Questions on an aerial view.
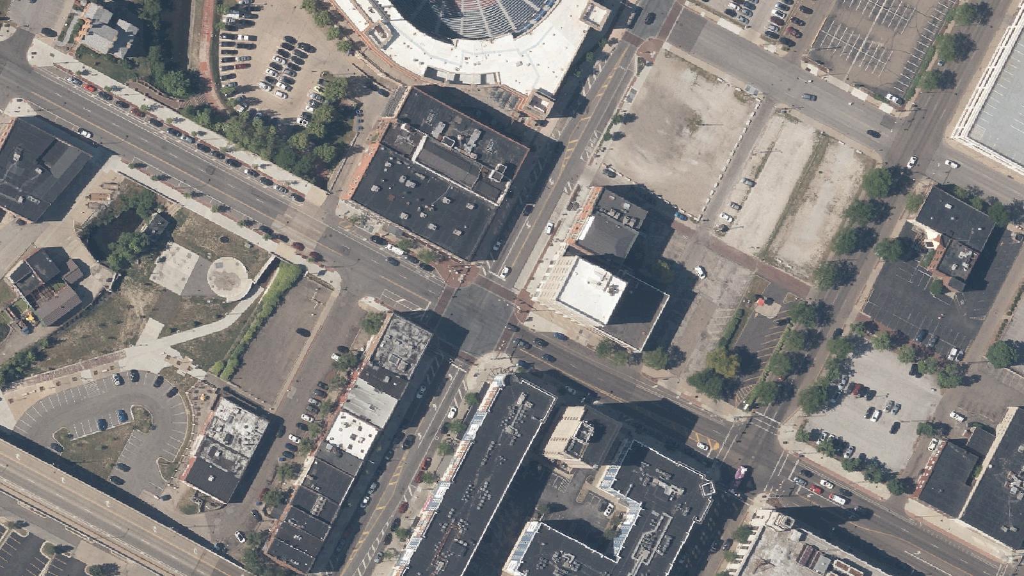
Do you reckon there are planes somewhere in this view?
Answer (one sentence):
No, there isn't any plane down there.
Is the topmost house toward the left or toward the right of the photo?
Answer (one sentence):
The topmost house is on the left side of the image.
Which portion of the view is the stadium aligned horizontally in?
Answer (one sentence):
The stadium aligned horizontally sits in the top section of the image.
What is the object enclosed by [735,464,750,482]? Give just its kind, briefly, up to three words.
vehicle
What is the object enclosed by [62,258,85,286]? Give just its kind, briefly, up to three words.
shed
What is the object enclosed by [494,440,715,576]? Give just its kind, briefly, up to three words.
building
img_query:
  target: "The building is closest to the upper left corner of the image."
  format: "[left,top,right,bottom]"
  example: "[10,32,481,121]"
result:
[72,2,139,58]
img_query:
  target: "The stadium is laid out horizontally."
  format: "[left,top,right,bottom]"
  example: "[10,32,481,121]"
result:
[318,0,613,120]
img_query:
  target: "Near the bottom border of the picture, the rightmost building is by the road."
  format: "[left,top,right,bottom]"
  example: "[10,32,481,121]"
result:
[951,407,1024,558]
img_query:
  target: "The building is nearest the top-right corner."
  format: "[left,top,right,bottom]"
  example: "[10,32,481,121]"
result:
[950,4,1024,179]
